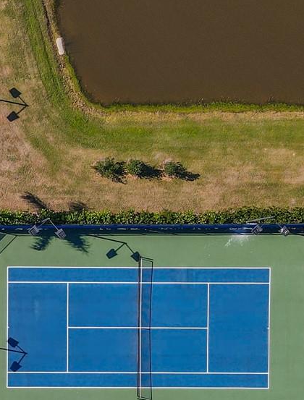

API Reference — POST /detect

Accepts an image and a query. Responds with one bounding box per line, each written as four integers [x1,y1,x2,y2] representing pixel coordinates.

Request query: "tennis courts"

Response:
[7,267,270,389]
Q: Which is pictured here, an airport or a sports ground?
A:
sports ground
